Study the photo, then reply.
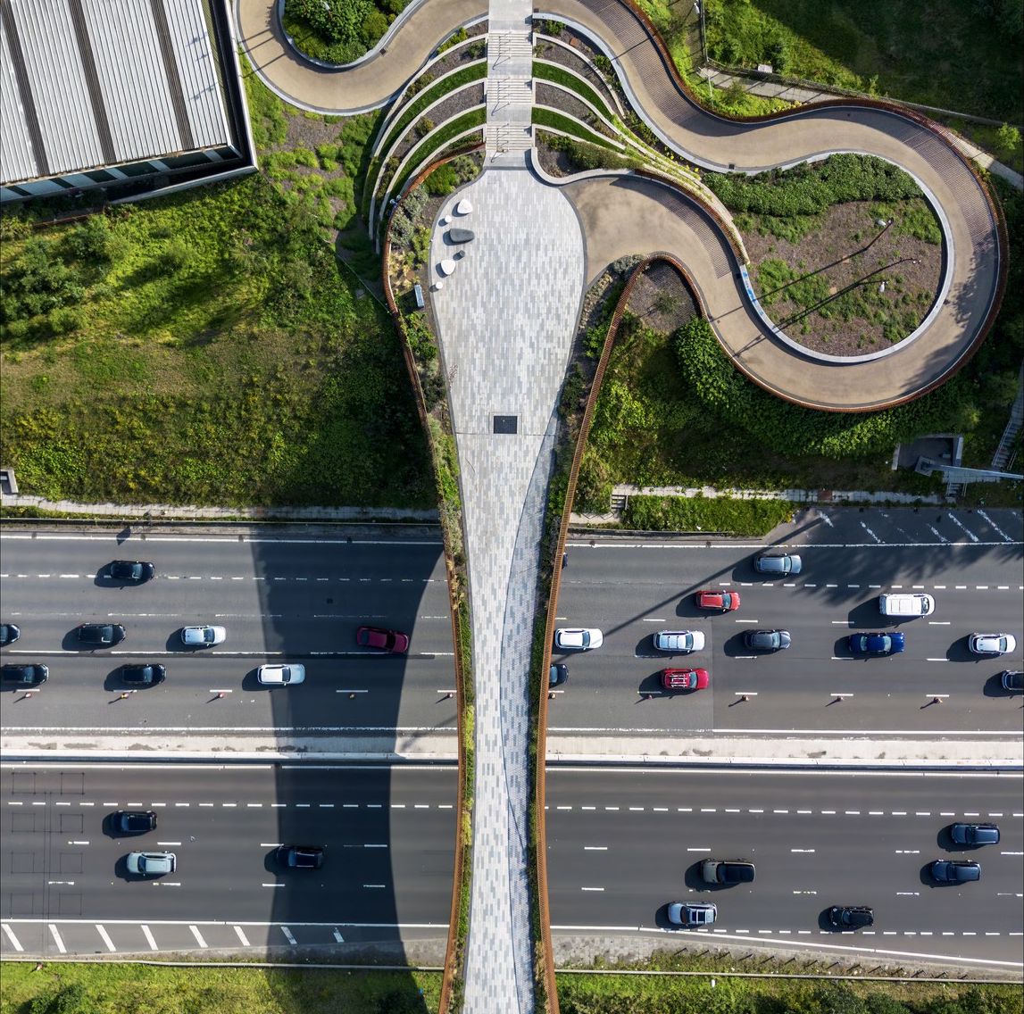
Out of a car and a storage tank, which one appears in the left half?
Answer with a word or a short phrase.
car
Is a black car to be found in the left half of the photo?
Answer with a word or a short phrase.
Yes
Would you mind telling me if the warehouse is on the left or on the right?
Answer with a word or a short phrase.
left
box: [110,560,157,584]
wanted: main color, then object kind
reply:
black car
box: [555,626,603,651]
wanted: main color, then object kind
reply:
white car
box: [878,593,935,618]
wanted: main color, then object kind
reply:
white vehicle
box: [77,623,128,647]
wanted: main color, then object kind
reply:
black car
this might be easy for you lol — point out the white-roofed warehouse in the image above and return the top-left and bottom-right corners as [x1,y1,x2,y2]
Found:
[0,0,251,220]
